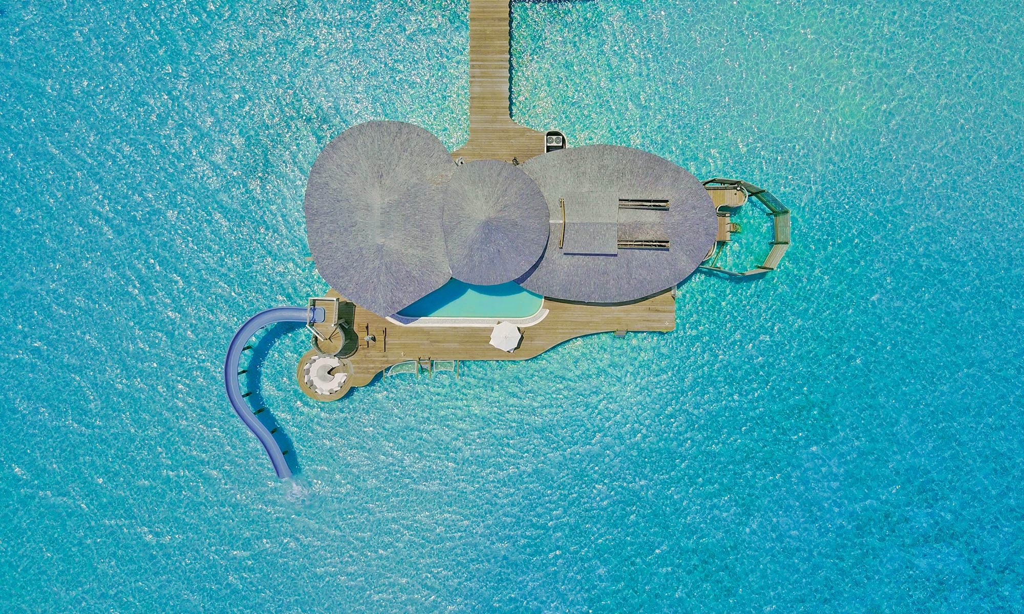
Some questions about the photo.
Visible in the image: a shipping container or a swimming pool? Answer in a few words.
swimming pool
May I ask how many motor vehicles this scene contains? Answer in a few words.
none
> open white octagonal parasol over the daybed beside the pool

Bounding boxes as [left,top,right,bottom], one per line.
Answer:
[491,321,521,351]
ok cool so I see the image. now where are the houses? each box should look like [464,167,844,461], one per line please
[304,120,718,318]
